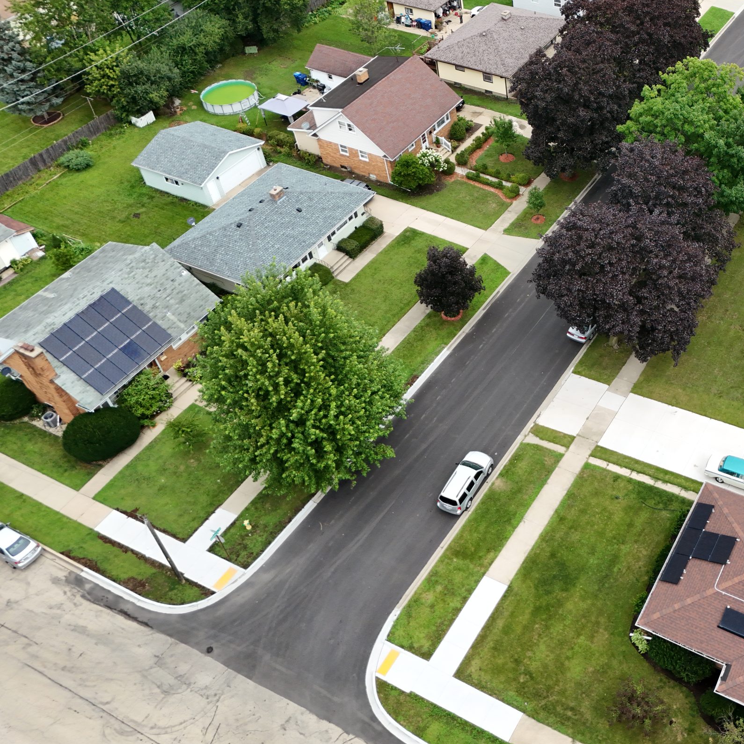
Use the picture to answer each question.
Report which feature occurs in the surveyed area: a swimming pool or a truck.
swimming pool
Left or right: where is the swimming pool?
left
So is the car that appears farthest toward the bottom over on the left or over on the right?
left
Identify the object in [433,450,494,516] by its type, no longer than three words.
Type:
car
